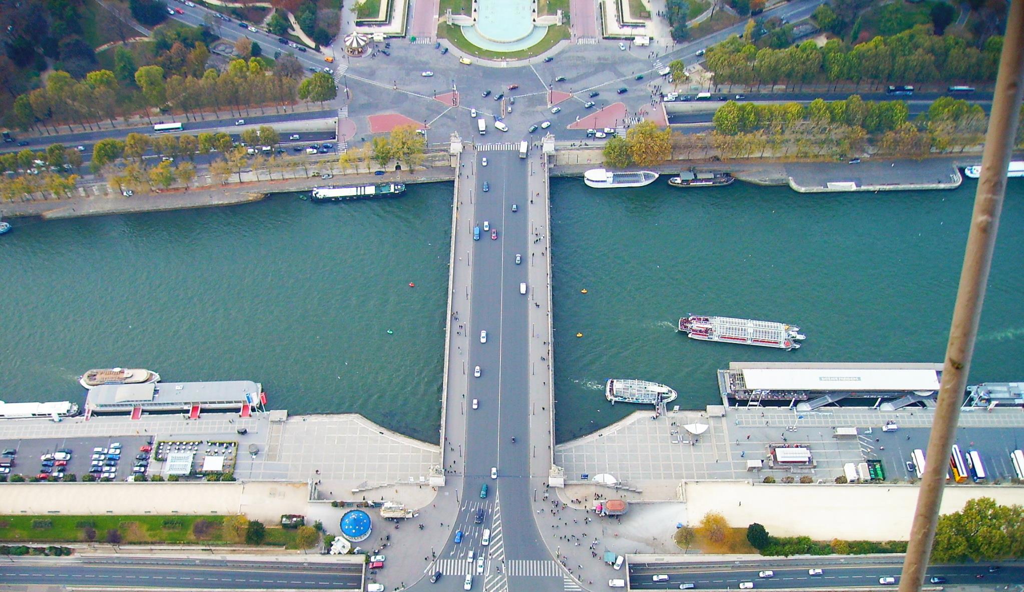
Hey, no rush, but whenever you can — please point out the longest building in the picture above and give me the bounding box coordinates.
[729,365,944,407]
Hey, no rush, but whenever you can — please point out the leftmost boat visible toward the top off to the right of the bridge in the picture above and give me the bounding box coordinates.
[581,170,661,189]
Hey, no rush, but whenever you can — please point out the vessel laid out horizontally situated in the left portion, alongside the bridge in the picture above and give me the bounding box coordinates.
[307,183,410,204]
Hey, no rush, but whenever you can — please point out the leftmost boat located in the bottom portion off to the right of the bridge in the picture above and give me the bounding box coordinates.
[605,379,677,405]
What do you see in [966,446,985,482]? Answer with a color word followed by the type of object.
white vehicle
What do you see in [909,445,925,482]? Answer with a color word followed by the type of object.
white vehicle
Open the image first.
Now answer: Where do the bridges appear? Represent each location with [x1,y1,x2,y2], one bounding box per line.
[435,150,560,482]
